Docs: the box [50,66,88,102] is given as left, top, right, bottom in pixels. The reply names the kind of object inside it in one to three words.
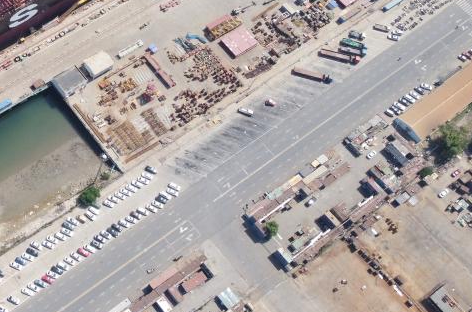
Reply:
building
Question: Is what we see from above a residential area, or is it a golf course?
residential area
